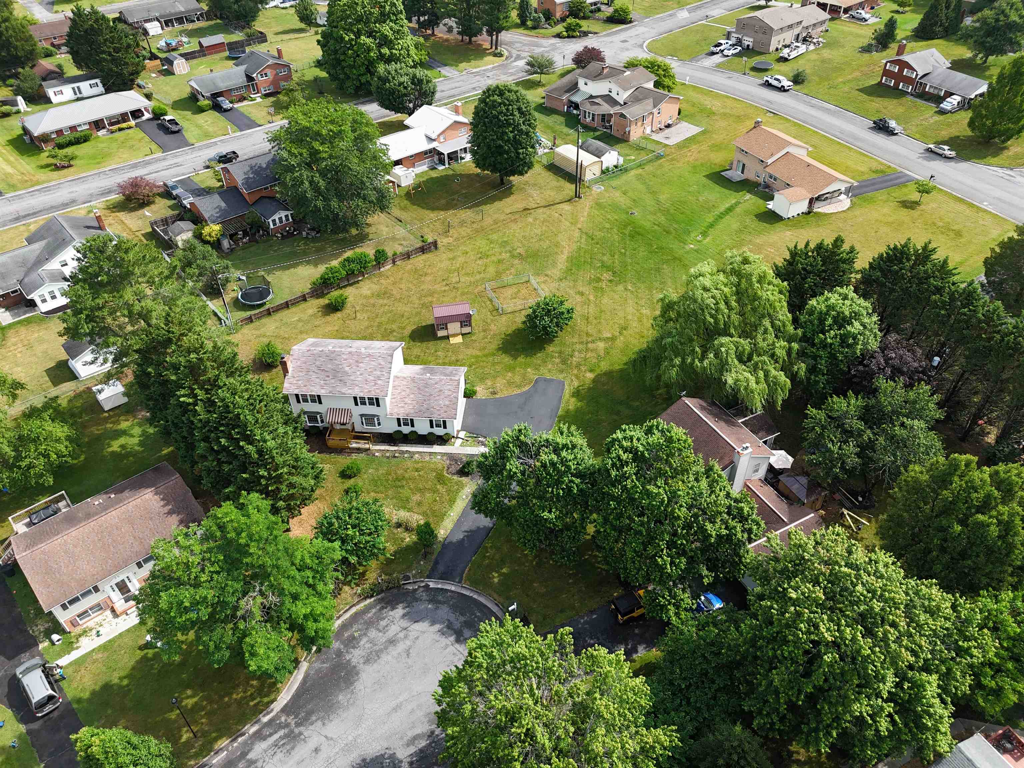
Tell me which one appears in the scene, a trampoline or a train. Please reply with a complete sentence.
Visible in the photo is a trampoline.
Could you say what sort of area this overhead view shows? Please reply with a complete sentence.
This looks like a residential area.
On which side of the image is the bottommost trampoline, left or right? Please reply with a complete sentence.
The bottommost trampoline appears in the left half of the scene.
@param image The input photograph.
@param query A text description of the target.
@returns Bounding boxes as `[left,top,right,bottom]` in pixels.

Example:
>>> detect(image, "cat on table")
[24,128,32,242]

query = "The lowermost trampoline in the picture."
[233,274,272,308]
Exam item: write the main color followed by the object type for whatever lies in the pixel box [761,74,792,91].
white vehicle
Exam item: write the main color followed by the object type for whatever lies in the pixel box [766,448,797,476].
white umbrella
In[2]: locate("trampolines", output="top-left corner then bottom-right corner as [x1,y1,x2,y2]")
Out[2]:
[233,274,272,308]
[755,60,775,69]
[225,40,247,57]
